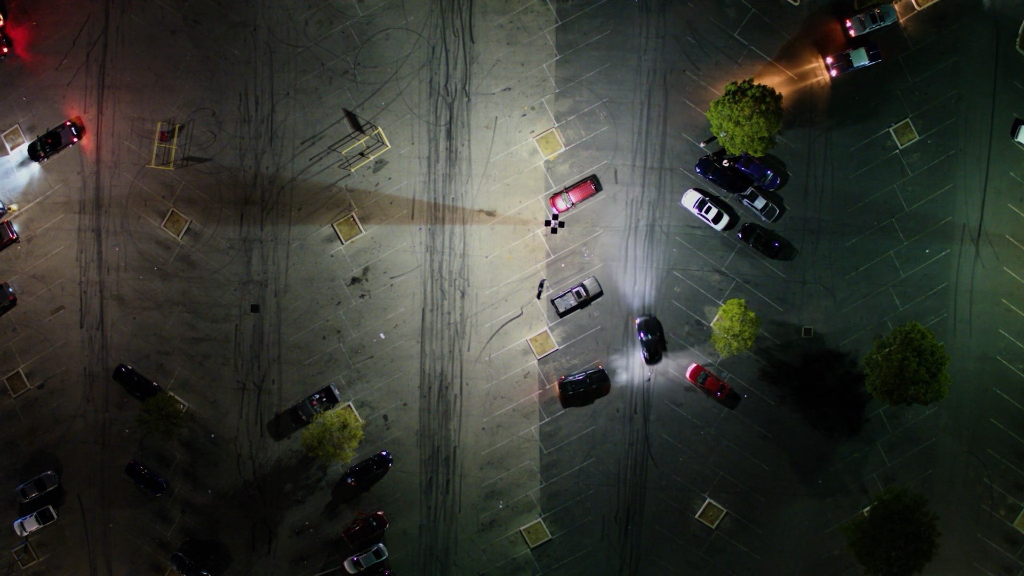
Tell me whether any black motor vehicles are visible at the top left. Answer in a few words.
Yes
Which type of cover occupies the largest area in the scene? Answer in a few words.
paved ground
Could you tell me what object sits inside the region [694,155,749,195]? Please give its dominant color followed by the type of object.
black car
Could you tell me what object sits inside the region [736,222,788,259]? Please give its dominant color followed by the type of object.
black car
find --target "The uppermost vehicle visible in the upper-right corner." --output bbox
[846,3,897,38]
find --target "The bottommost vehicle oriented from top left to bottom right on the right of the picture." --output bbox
[686,364,736,406]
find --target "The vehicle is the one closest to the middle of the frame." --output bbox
[550,276,604,318]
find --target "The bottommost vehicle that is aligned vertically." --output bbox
[635,314,662,365]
